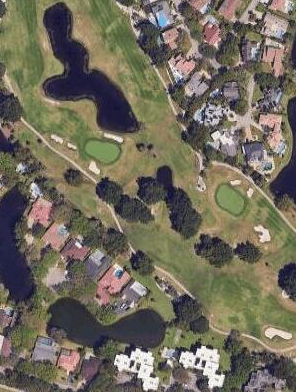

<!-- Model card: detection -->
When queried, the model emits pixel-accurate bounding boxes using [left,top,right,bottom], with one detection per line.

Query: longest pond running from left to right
[48,299,163,348]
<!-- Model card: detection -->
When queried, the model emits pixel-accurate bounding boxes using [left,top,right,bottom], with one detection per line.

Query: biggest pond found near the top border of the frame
[44,2,137,132]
